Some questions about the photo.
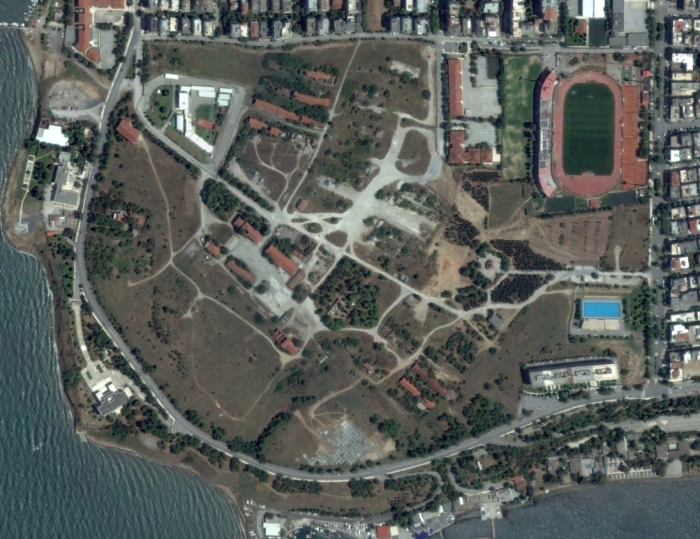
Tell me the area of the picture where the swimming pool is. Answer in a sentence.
The swimming pool appears toward the right of the photo.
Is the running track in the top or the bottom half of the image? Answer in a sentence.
The running track is in the top half of the image.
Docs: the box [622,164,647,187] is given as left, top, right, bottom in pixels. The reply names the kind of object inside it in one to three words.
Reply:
tennis court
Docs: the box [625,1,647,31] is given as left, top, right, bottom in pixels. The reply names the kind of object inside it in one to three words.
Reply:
building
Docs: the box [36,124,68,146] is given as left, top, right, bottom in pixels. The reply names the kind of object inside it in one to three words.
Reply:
building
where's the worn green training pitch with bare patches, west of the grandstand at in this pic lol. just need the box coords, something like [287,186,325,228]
[502,52,541,181]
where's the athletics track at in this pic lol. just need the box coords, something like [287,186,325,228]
[552,69,623,196]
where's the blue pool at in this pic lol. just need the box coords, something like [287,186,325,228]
[582,296,623,319]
